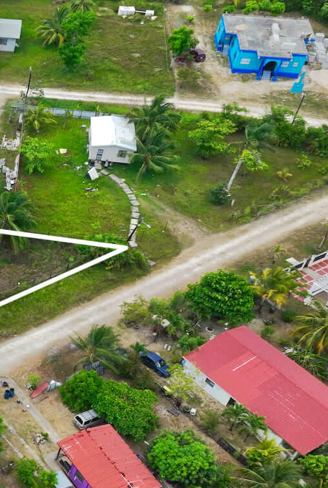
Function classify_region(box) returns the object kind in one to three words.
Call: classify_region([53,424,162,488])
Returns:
house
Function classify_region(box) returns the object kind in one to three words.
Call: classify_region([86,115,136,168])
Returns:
house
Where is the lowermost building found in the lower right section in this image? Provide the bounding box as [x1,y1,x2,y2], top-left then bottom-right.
[182,326,328,466]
